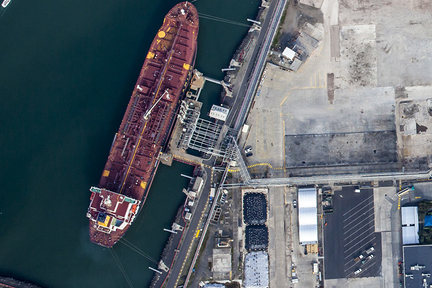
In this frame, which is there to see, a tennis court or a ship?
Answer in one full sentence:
Visible in the photo is a ship.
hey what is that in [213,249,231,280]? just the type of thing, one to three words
building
